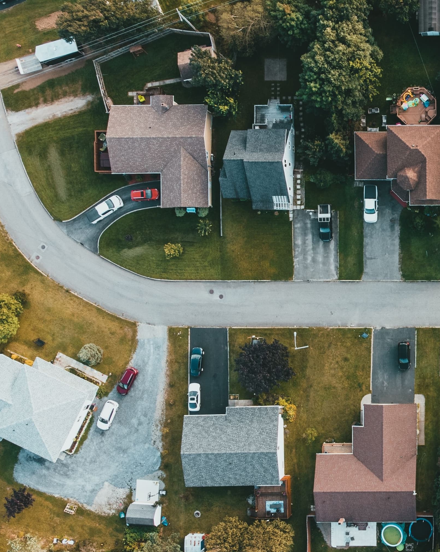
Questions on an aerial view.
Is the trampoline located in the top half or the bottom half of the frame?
bottom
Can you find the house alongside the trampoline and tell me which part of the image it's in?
bottom right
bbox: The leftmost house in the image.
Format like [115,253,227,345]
[0,351,105,463]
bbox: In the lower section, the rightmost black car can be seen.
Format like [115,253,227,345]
[396,341,411,370]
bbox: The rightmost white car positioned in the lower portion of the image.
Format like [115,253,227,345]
[186,381,203,412]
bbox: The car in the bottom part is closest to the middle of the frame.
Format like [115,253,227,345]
[188,346,205,377]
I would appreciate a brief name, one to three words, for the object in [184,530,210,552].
shed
